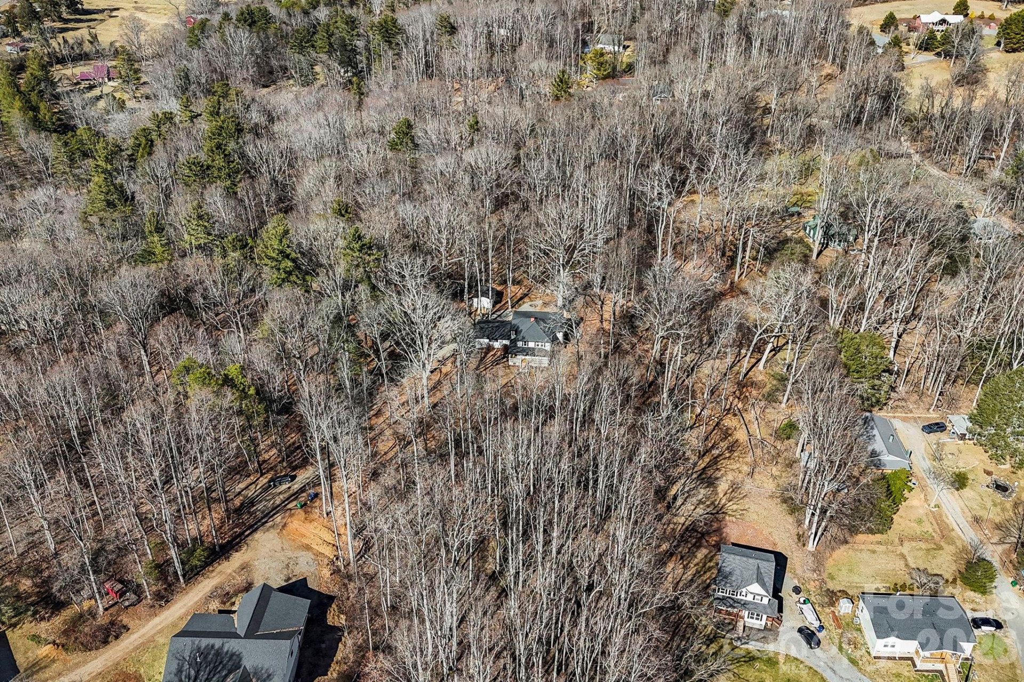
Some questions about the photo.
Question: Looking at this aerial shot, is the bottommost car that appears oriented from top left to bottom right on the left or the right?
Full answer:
The bottommost car that appears oriented from top left to bottom right sits on the right side.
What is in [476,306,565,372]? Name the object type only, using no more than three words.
house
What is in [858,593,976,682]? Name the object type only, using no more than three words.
house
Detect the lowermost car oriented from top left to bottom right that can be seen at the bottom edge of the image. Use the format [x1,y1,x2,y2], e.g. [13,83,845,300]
[796,623,826,650]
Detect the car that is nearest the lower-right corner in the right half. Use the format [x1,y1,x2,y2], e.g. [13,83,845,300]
[971,616,1006,632]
